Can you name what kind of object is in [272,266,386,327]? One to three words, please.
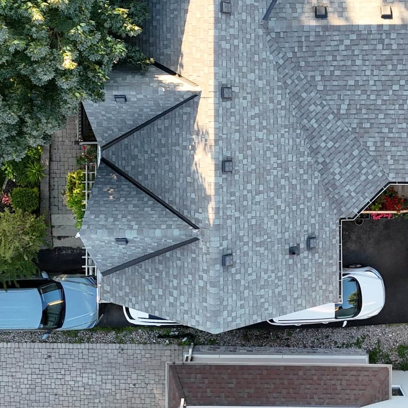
car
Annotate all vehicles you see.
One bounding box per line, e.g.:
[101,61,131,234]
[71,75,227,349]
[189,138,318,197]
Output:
[0,270,103,336]
[272,266,386,327]
[124,307,185,332]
